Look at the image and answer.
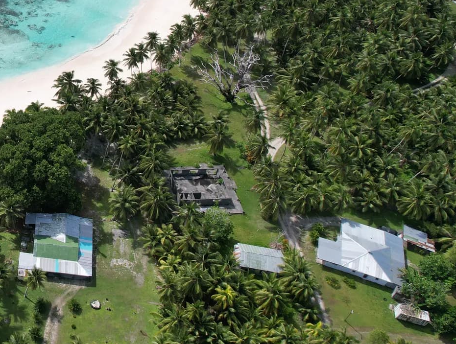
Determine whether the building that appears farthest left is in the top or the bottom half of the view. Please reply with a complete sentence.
You can find the building that appears farthest left in the bottom half.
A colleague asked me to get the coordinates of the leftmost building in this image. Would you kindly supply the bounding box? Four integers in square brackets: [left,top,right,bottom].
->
[18,214,93,282]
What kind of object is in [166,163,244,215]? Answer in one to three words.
building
